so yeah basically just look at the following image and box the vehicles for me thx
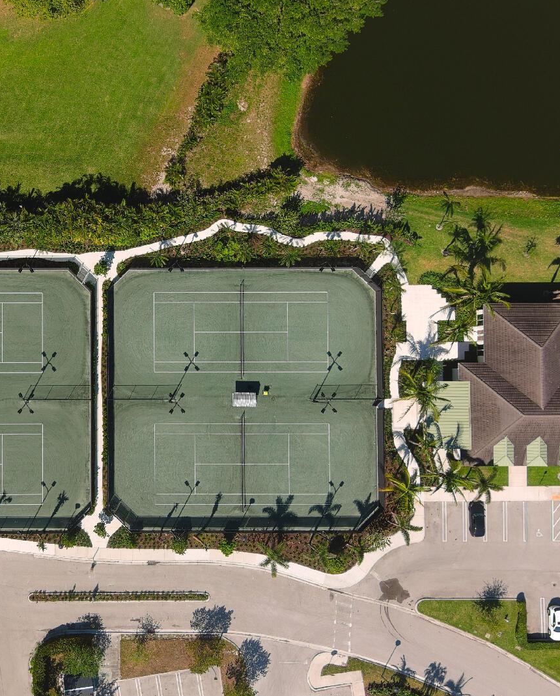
[546,601,560,640]
[466,500,487,537]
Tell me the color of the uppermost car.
black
